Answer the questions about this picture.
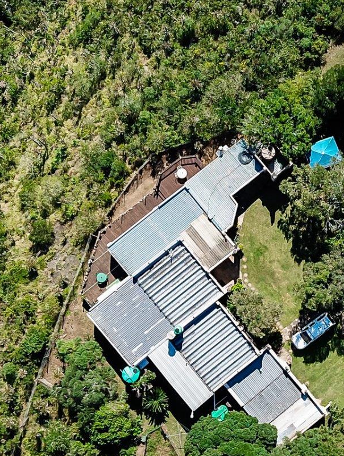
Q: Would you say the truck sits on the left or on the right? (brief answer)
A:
right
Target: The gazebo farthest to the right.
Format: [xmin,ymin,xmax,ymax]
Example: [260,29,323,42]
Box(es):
[310,136,342,167]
